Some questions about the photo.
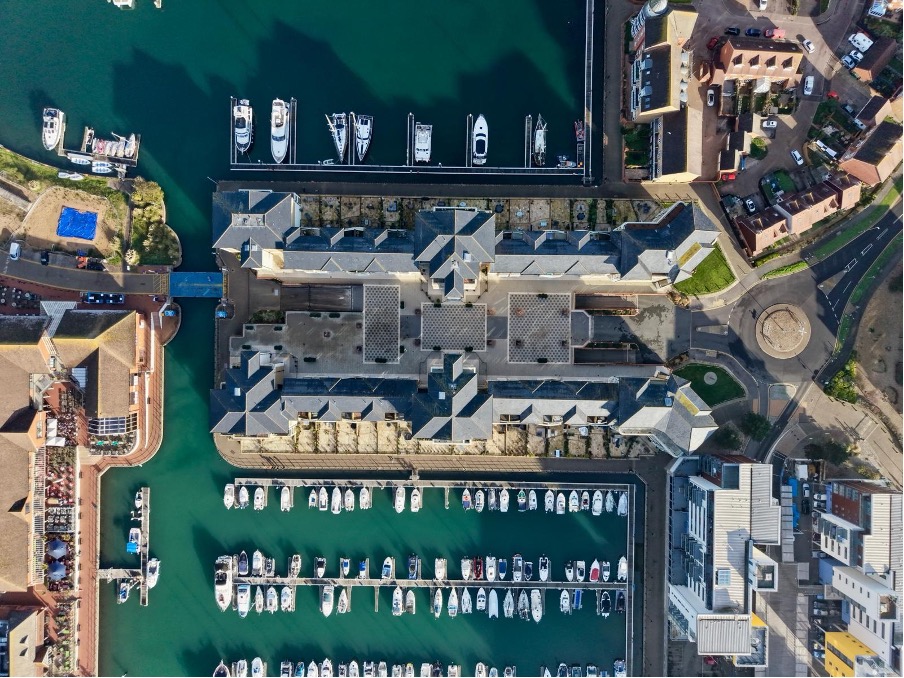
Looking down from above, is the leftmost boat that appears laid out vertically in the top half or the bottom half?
top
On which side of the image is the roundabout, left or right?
right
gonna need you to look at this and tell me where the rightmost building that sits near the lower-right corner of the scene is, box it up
[817,477,904,678]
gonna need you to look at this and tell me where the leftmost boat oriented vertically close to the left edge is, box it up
[41,104,64,150]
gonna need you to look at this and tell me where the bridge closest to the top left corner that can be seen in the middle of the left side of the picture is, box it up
[168,272,225,297]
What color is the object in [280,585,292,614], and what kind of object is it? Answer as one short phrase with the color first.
white boat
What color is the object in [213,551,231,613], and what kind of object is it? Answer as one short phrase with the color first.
white boat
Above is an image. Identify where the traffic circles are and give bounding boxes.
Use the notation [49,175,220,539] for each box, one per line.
[755,303,811,358]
